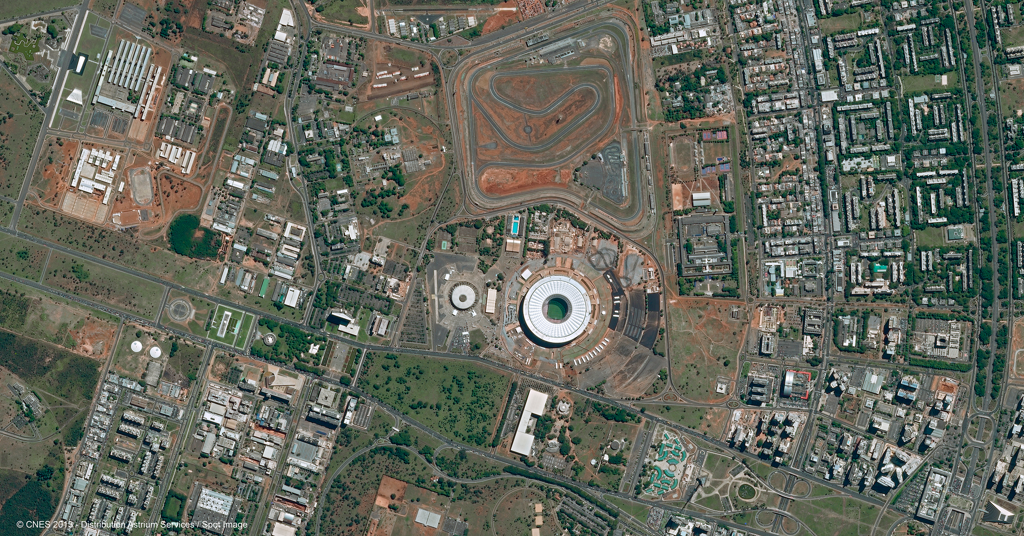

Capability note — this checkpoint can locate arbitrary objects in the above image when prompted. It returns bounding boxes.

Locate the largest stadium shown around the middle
[516,268,598,350]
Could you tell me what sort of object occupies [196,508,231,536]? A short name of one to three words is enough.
building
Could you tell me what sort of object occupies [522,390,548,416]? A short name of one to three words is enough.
building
